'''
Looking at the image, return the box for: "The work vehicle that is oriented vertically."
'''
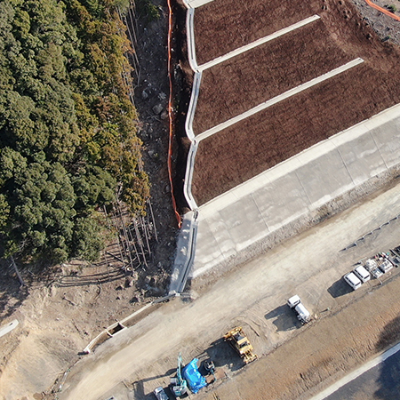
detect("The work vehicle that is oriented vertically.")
[173,358,190,400]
